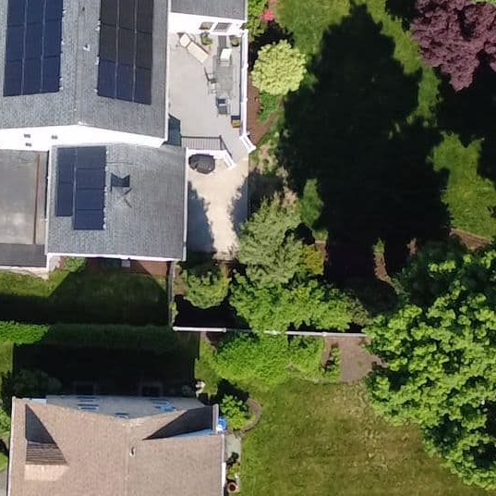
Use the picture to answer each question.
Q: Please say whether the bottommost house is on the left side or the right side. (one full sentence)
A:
The bottommost house appears in the left half of the scene.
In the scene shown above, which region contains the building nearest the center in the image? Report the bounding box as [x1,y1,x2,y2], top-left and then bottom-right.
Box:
[44,138,188,261]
